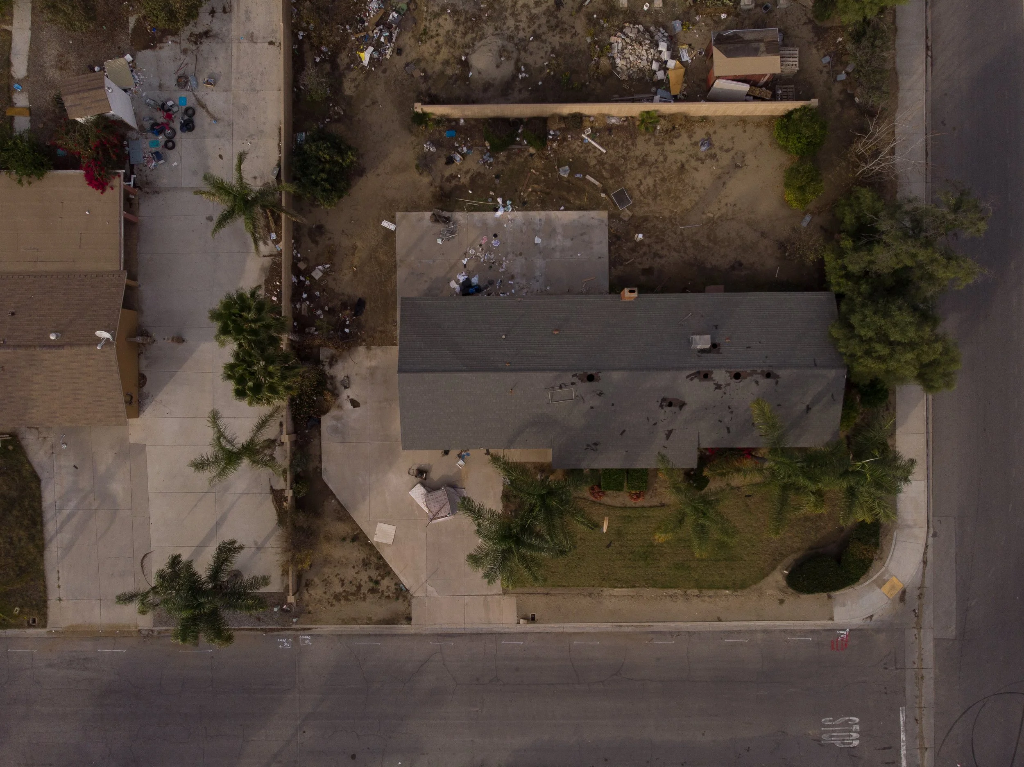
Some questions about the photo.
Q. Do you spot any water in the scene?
No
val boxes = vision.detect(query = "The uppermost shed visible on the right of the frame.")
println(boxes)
[704,27,781,88]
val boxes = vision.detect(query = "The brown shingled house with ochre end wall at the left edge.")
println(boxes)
[0,166,138,427]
